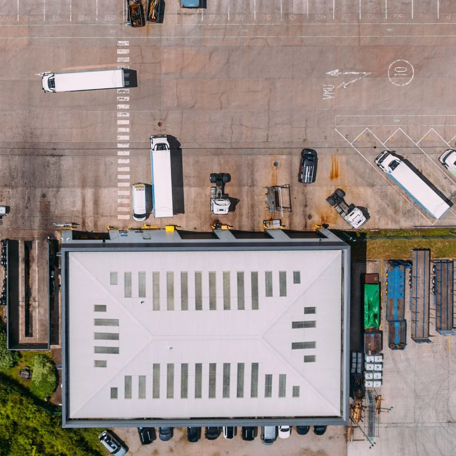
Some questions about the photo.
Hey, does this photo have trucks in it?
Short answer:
Yes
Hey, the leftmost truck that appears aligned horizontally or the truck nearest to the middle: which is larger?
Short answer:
the leftmost truck that appears aligned horizontally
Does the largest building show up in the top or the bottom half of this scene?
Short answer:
bottom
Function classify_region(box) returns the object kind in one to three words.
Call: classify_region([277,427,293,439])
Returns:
vehicle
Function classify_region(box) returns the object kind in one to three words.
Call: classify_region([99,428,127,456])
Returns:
car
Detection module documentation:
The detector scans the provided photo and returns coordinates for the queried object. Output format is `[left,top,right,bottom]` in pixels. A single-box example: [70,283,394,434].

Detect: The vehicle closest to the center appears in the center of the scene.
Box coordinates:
[207,171,231,215]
